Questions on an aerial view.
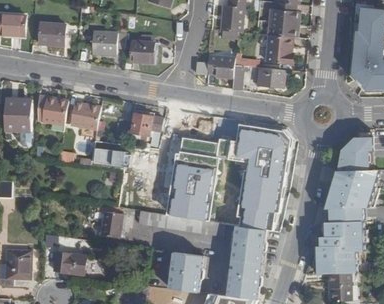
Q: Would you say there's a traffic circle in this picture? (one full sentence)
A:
Yes, a traffic circle is visible in the scene.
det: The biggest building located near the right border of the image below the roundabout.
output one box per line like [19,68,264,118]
[316,170,382,303]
